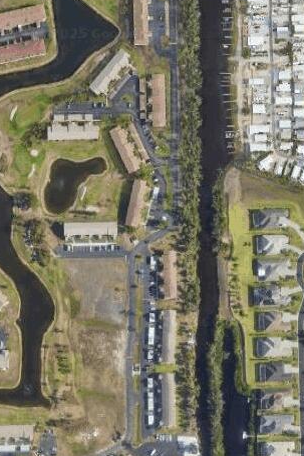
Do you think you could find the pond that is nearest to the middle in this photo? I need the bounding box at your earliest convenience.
[45,157,107,214]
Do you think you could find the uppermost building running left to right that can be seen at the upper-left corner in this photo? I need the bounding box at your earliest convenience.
[0,5,47,31]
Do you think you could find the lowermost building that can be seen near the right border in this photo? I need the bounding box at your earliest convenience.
[259,440,296,456]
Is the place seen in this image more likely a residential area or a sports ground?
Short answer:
residential area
